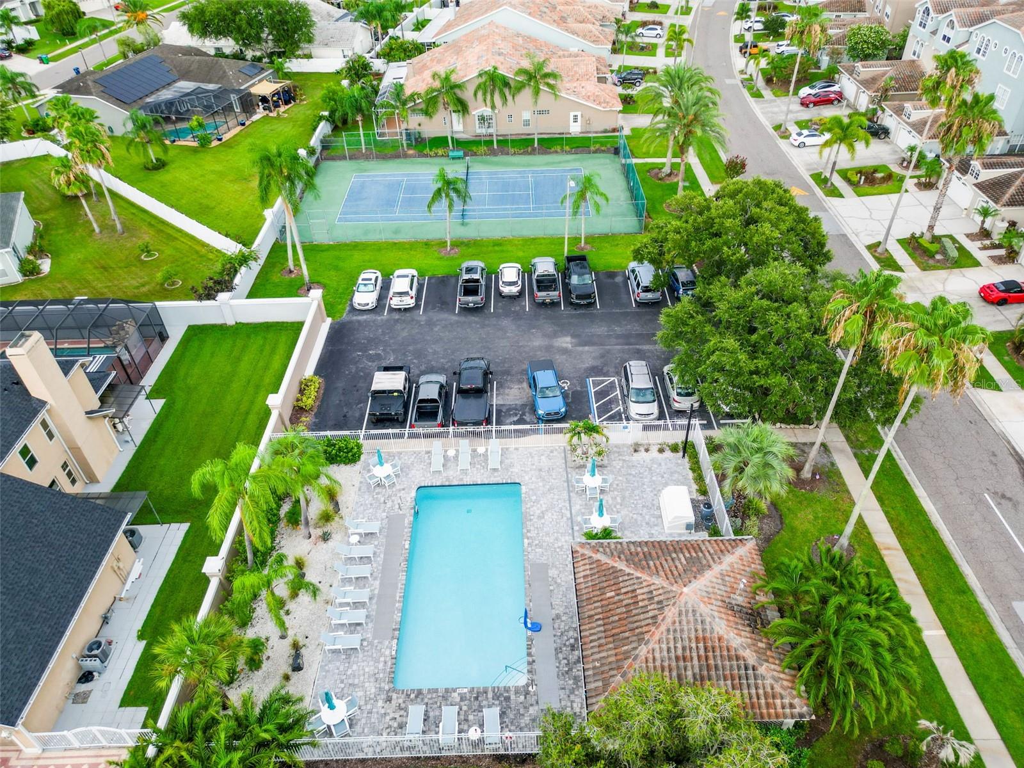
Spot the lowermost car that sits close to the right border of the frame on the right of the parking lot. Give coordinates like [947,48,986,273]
[973,280,1024,309]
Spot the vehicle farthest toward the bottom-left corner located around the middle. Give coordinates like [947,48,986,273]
[405,369,447,437]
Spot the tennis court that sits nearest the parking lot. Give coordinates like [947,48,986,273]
[301,153,643,242]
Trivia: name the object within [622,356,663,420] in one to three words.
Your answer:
car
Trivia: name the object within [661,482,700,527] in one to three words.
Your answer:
shed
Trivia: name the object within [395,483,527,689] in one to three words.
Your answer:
swimming pool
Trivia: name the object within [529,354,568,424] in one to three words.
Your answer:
truck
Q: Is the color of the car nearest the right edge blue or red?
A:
red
